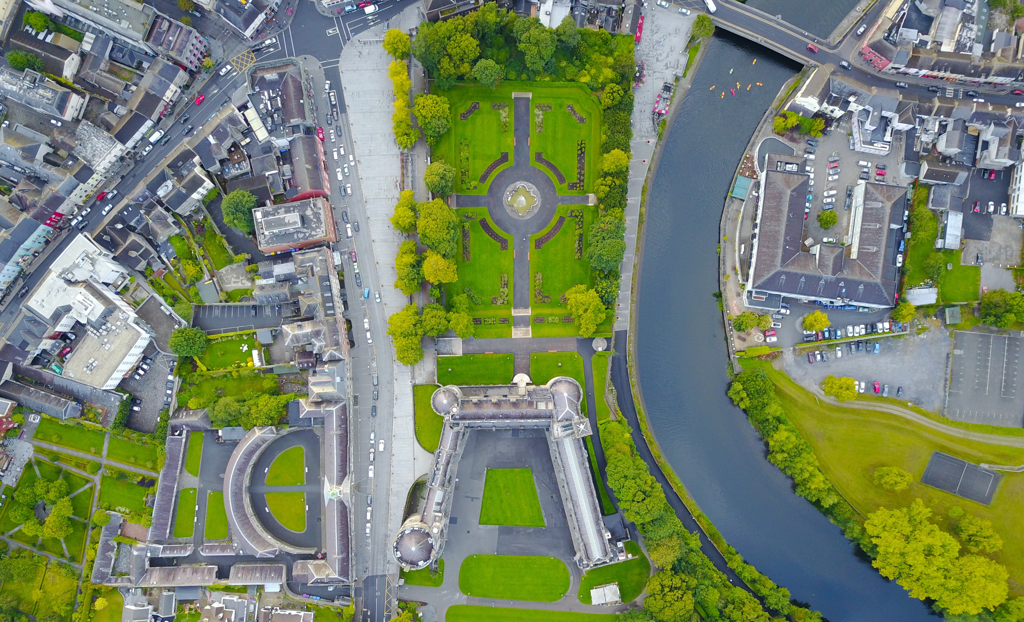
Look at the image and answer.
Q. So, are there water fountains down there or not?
Yes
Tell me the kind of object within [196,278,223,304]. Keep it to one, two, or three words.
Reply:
shed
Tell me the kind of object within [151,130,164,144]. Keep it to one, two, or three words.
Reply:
vehicle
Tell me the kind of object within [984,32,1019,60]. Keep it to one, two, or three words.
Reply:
house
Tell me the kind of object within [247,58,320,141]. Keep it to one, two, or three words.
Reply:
building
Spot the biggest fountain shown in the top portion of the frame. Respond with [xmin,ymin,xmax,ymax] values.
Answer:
[503,181,541,219]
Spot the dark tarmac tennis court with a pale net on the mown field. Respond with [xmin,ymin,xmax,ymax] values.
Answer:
[921,450,1006,508]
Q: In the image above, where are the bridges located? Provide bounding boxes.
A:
[710,0,825,69]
